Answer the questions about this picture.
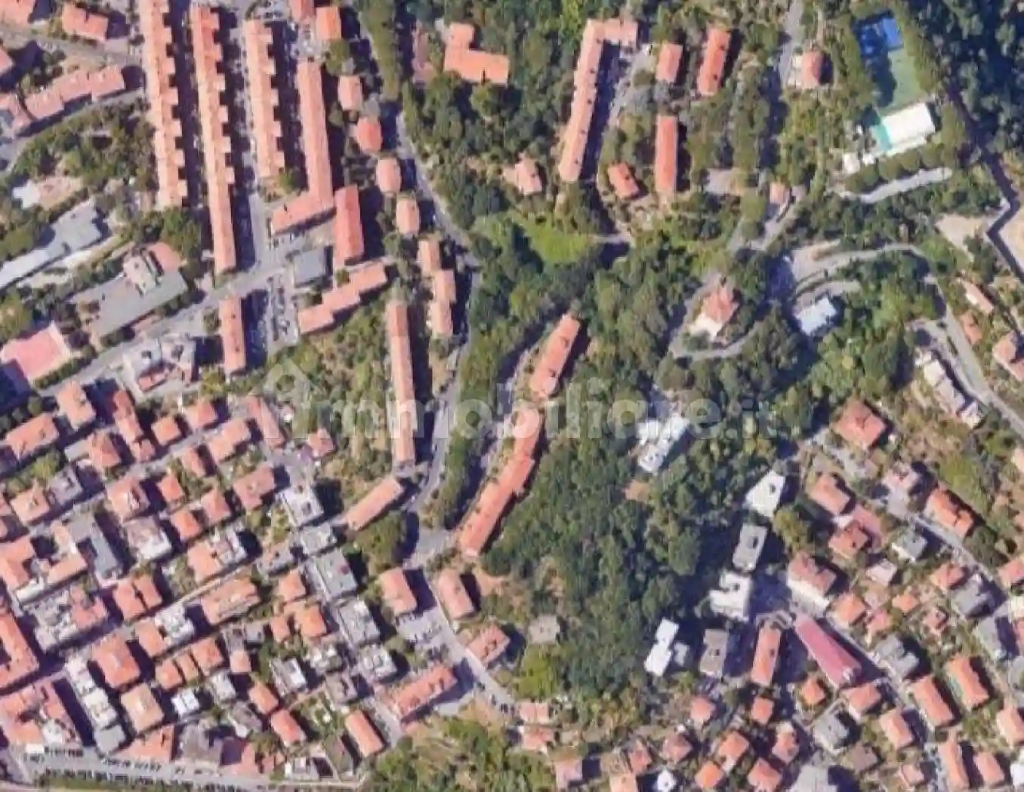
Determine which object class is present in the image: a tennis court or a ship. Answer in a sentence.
I can see a tennis court in this picture.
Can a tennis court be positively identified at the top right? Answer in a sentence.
Yes, a tennis court shows up at the top right.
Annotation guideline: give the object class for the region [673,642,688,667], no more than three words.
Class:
shed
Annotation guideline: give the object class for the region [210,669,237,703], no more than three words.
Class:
building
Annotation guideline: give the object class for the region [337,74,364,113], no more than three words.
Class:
house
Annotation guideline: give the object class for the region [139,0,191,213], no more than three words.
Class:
building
